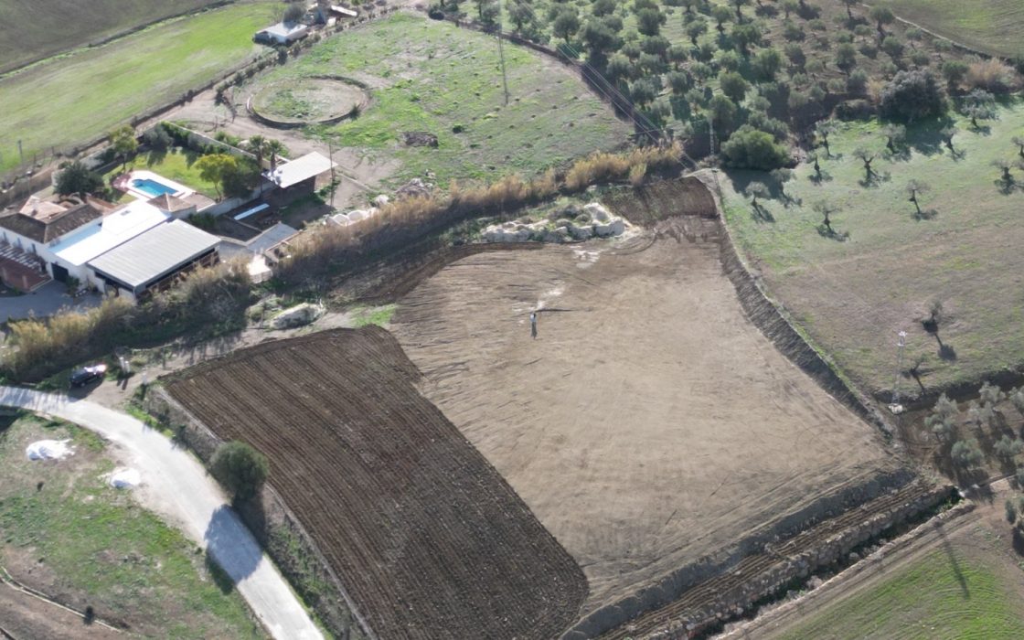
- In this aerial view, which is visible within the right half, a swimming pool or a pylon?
pylon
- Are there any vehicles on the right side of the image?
No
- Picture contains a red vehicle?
No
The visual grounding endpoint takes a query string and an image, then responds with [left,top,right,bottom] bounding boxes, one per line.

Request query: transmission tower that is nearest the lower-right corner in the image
[890,325,918,421]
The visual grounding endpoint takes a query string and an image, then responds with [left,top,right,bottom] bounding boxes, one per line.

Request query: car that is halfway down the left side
[66,364,108,388]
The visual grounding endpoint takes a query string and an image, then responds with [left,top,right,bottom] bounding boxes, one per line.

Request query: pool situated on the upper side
[116,169,197,201]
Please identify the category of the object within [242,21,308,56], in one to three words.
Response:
barn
